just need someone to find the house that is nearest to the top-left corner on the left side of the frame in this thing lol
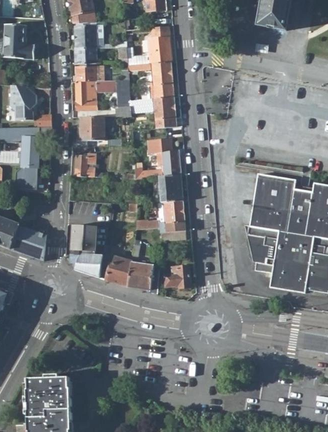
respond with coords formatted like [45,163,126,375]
[2,22,36,60]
